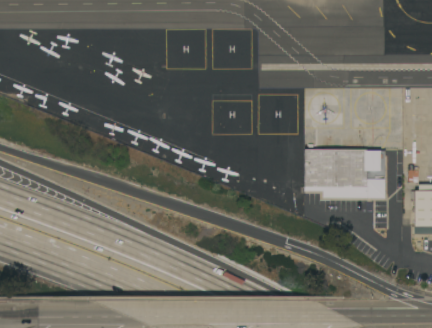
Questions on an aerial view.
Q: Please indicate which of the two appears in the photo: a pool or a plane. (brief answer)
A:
plane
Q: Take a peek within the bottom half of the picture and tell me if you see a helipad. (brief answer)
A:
No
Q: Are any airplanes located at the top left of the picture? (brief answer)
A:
Yes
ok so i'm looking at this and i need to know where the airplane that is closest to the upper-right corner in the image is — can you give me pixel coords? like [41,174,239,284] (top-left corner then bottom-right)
[405,142,419,164]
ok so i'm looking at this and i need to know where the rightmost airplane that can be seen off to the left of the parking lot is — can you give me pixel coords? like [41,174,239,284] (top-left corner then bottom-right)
[216,166,238,182]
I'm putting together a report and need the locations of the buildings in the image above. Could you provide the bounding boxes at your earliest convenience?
[414,184,432,234]
[303,149,386,200]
